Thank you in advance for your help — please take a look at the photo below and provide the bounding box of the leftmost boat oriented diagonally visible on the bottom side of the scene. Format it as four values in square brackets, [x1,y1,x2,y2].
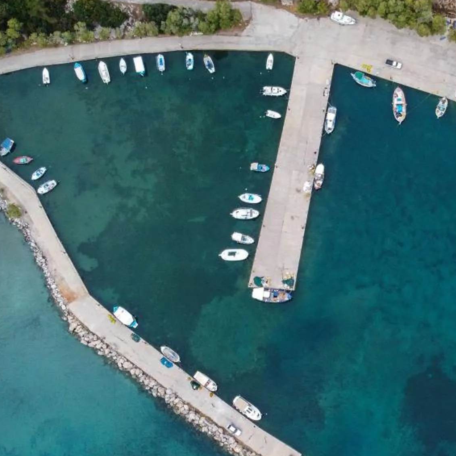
[113,304,141,327]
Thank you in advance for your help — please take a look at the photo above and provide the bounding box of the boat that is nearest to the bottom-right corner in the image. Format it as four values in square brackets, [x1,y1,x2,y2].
[233,396,261,417]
